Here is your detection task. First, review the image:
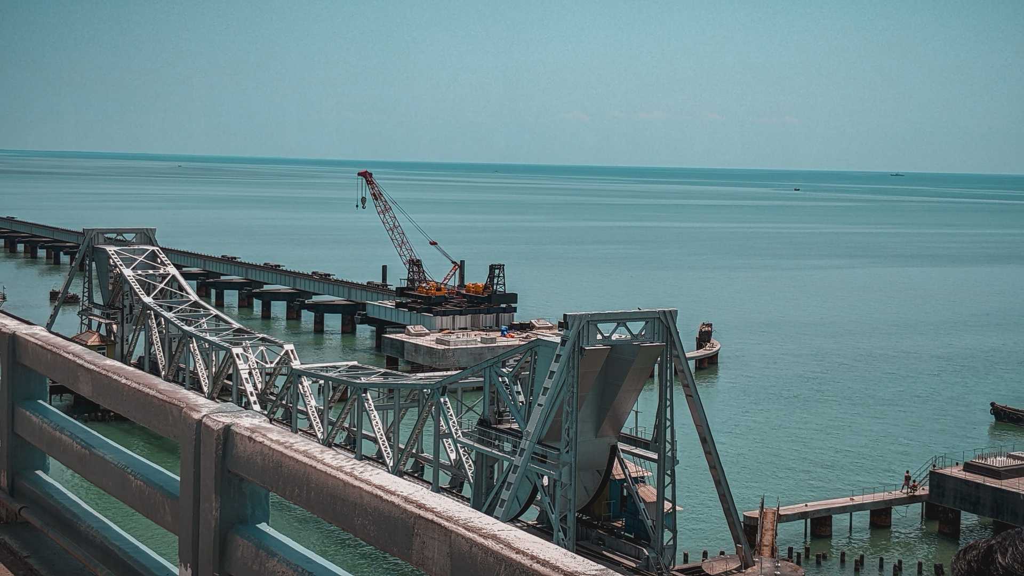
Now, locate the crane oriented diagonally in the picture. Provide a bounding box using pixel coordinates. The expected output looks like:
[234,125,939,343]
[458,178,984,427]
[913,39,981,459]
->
[356,174,463,291]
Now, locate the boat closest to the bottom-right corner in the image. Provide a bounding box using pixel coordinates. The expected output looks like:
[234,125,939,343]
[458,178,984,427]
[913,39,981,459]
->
[992,400,1024,425]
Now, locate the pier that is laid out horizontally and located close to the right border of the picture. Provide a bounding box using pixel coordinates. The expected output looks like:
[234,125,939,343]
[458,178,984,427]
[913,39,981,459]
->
[740,486,973,552]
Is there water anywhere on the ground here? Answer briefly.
Yes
